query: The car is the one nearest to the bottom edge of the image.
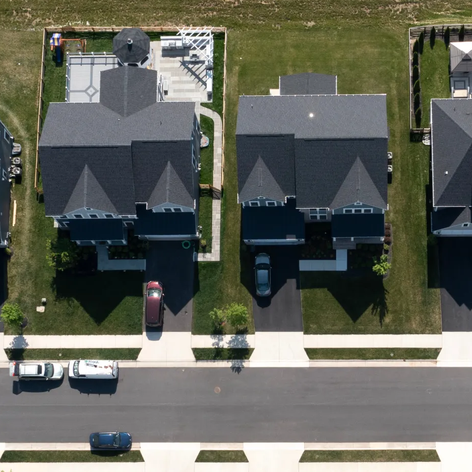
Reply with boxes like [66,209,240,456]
[89,429,133,451]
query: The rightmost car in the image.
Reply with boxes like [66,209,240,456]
[253,254,273,297]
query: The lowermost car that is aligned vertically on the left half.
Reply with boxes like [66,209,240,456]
[143,282,166,328]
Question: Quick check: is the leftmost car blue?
No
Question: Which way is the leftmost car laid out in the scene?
horizontally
